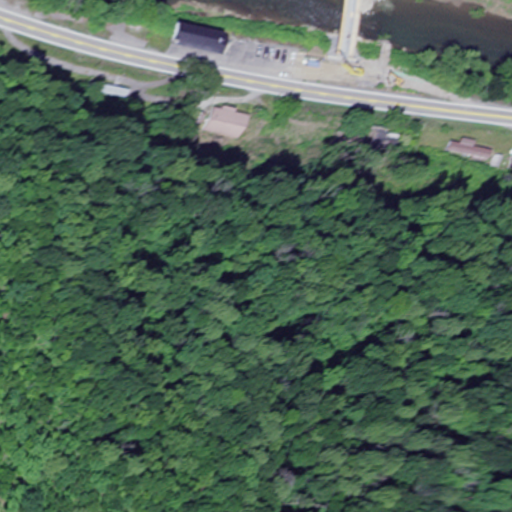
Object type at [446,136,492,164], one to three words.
house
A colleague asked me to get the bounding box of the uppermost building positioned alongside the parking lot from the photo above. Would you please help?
[174,19,228,54]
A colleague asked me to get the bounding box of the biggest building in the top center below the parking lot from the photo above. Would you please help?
[201,103,246,140]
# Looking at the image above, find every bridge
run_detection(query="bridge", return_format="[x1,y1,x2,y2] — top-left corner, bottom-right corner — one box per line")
[334,0,359,60]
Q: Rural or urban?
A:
rural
